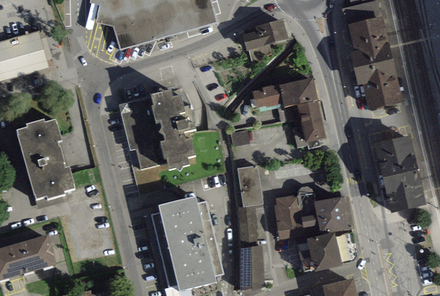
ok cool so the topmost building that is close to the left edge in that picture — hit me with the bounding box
[0,32,48,80]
